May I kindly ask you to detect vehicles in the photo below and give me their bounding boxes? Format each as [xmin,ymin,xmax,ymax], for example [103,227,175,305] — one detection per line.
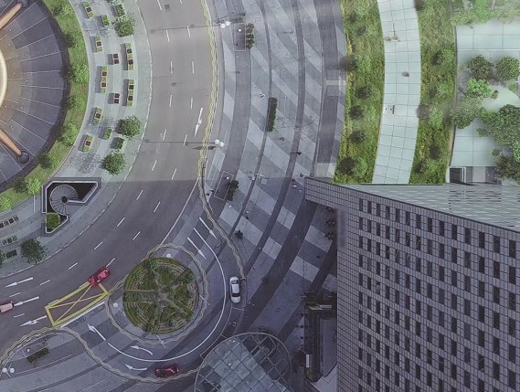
[229,275,240,302]
[88,266,111,285]
[0,301,15,313]
[154,362,178,376]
